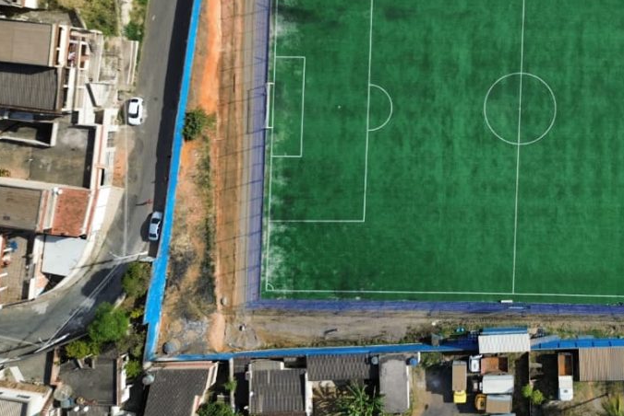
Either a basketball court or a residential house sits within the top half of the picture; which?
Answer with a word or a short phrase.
residential house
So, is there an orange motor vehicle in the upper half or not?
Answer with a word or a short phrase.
No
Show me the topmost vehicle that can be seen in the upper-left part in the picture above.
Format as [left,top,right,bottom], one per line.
[125,97,142,124]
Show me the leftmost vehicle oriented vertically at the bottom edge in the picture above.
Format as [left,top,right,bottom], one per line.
[452,357,468,401]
